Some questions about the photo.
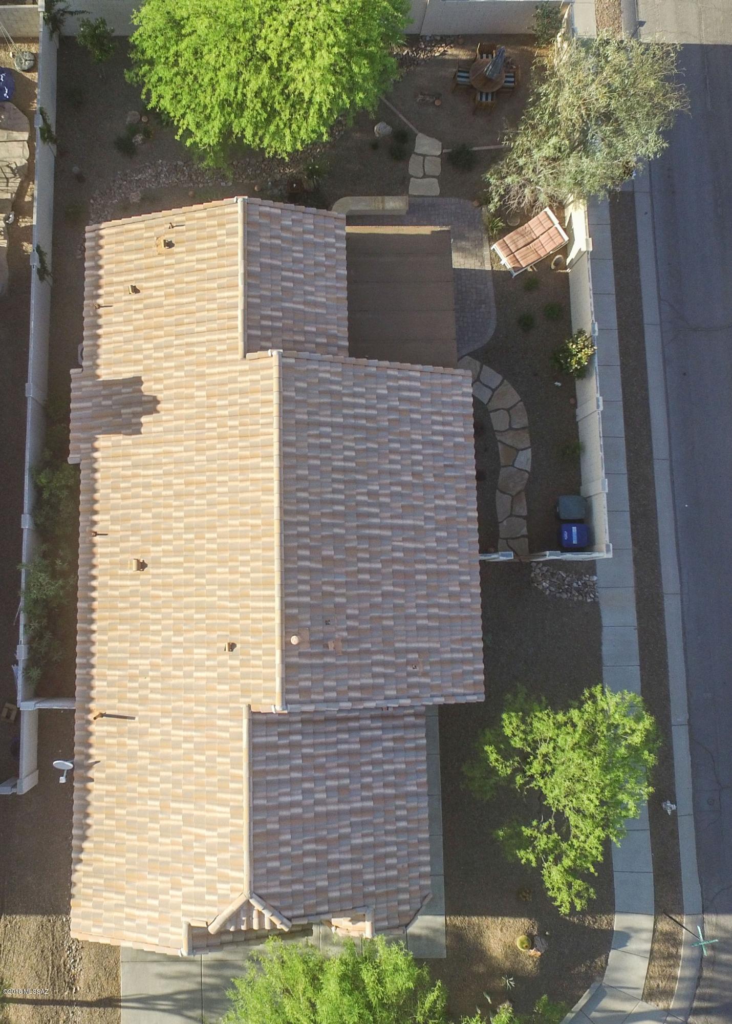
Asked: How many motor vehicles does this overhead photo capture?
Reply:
0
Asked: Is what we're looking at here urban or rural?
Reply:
urban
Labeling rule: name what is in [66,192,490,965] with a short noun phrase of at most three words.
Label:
house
